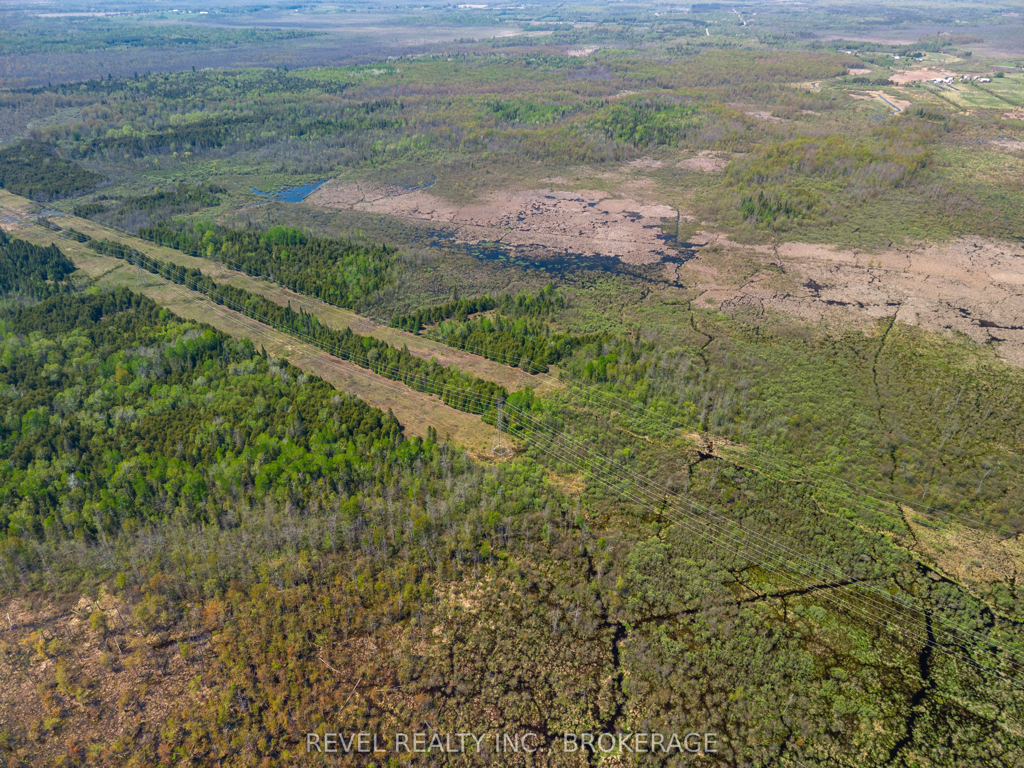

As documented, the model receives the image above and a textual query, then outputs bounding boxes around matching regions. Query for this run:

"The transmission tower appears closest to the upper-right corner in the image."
[516,354,532,388]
